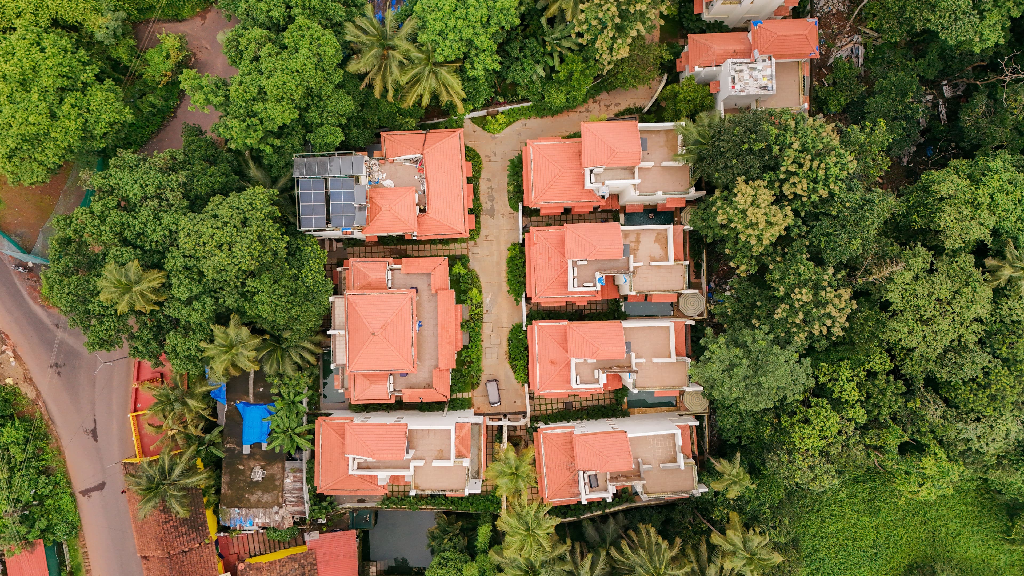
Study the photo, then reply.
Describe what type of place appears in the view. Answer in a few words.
residential area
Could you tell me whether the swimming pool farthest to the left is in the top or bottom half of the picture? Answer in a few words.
bottom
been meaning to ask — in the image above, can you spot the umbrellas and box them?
[679,292,705,316]
[681,202,705,228]
[683,390,707,412]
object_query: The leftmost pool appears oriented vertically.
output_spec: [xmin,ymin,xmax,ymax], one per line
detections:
[321,348,346,405]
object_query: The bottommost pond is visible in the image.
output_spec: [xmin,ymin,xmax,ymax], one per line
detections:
[369,510,446,576]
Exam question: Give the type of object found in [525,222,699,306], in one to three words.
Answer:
house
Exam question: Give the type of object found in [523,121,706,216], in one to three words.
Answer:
house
